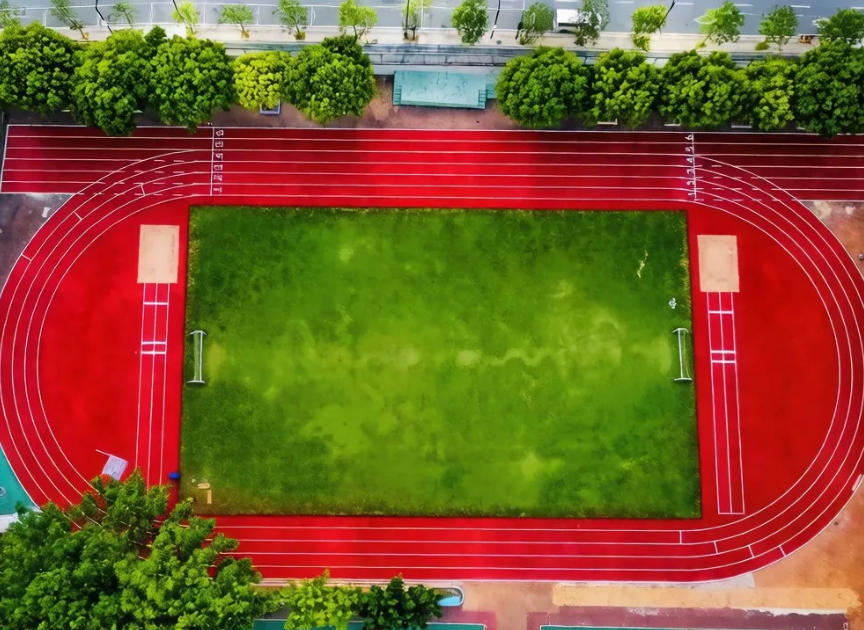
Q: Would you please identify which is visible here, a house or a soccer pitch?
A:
soccer pitch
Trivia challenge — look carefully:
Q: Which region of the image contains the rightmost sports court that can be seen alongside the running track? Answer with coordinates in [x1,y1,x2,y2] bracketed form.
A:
[527,606,848,630]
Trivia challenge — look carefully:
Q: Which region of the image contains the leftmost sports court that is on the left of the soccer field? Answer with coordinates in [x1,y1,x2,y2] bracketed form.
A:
[0,444,36,511]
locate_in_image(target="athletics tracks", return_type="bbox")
[0,124,864,583]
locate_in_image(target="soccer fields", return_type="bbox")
[179,205,703,520]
